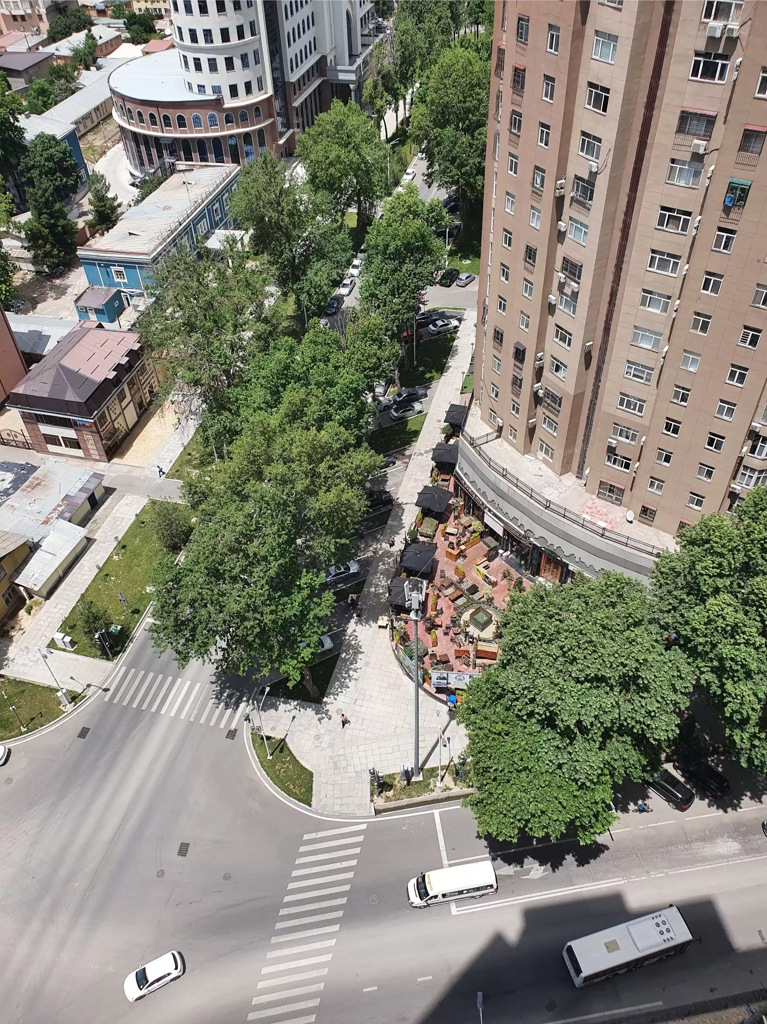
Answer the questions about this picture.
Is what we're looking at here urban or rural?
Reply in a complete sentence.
It looks urban.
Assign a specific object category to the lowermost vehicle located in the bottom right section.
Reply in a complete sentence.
The lowermost vehicle located in the bottom right section is a bus.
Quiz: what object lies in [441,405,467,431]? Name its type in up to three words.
umbrella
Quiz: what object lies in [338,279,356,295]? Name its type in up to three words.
car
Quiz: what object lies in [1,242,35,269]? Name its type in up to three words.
building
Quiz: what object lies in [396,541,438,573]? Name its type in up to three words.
umbrella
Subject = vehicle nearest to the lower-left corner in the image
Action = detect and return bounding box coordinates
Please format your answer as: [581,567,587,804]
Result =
[125,946,183,994]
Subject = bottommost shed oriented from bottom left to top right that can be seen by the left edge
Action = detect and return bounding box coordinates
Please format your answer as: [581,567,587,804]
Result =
[13,520,90,602]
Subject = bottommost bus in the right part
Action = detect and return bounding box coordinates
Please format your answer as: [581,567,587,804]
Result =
[560,903,704,989]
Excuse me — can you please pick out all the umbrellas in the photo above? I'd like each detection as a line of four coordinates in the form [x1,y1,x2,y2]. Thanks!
[413,486,453,513]
[428,443,461,469]
[441,405,467,431]
[383,577,425,608]
[396,541,438,573]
